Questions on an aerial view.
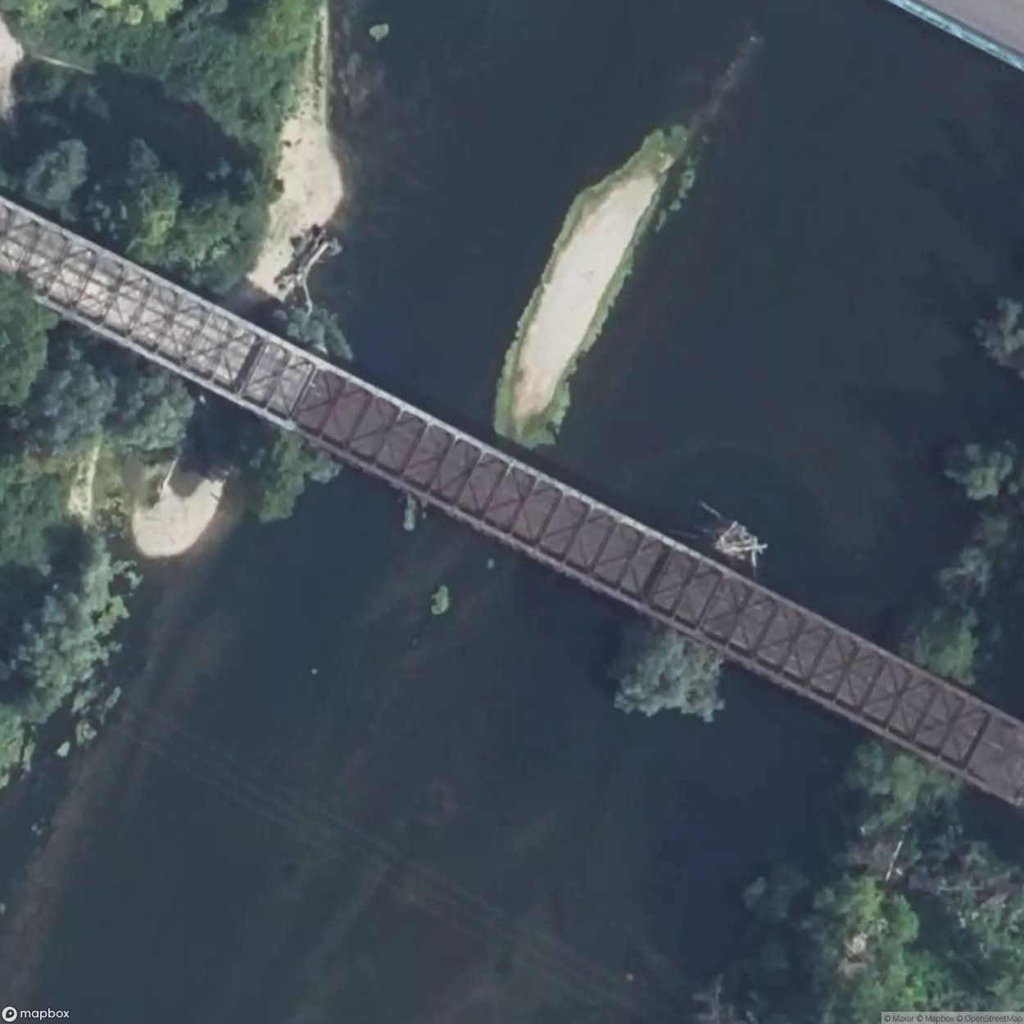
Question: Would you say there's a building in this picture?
No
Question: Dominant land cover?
water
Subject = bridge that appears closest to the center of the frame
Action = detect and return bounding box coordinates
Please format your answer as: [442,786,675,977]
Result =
[0,198,1024,807]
